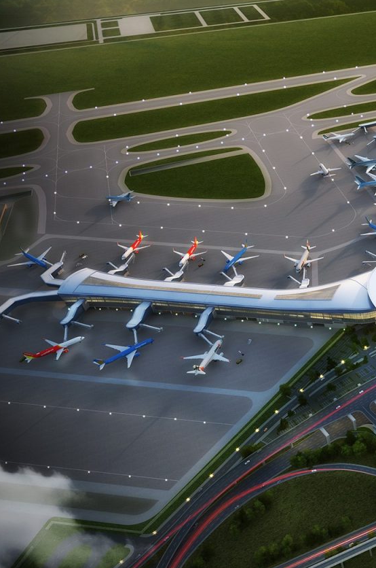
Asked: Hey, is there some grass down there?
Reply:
Yes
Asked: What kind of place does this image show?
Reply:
airport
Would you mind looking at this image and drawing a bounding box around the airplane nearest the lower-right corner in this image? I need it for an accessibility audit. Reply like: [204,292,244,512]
[185,343,222,372]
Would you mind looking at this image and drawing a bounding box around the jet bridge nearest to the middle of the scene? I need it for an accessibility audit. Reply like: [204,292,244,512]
[161,259,190,283]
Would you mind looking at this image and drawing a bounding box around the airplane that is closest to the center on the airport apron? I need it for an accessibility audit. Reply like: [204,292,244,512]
[173,237,209,266]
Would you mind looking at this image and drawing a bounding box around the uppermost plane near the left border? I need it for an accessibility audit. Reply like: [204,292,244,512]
[7,242,52,266]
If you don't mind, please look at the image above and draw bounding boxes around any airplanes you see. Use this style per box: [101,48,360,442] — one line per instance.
[287,243,323,273]
[185,343,222,372]
[173,237,209,266]
[315,165,339,176]
[357,172,376,189]
[221,243,255,272]
[323,132,355,143]
[118,230,155,260]
[348,154,376,171]
[20,335,85,363]
[7,242,52,266]
[95,340,154,366]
